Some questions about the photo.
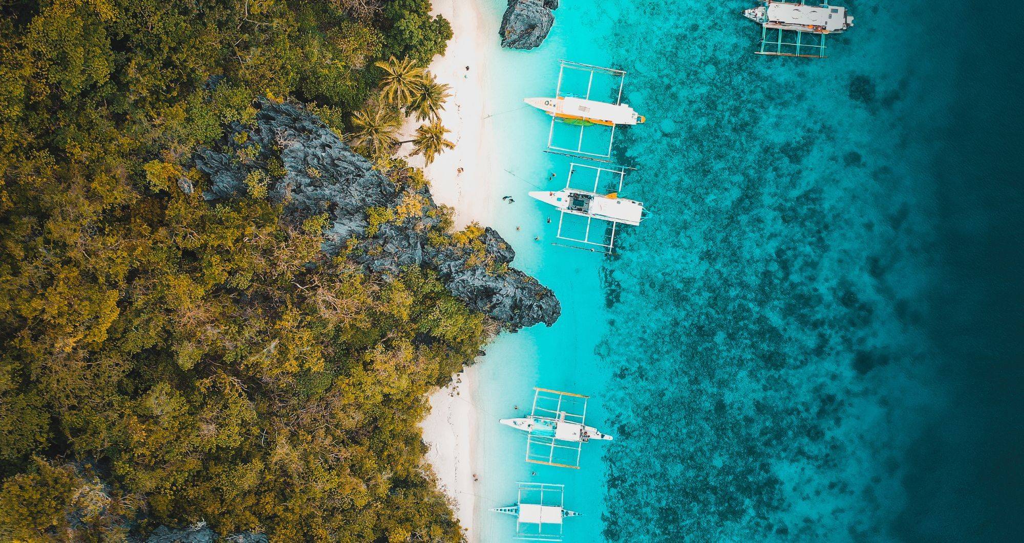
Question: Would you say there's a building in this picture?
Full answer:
No, the photo shows no building.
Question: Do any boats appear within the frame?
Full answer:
Yes, there is a boat in the image.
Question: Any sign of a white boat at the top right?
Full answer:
Yes, a white boat is visible at the top right.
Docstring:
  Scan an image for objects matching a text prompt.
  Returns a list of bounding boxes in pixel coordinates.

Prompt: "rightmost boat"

[735,0,854,58]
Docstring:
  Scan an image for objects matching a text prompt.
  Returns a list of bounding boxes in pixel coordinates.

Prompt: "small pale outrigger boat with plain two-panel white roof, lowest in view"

[488,482,586,542]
